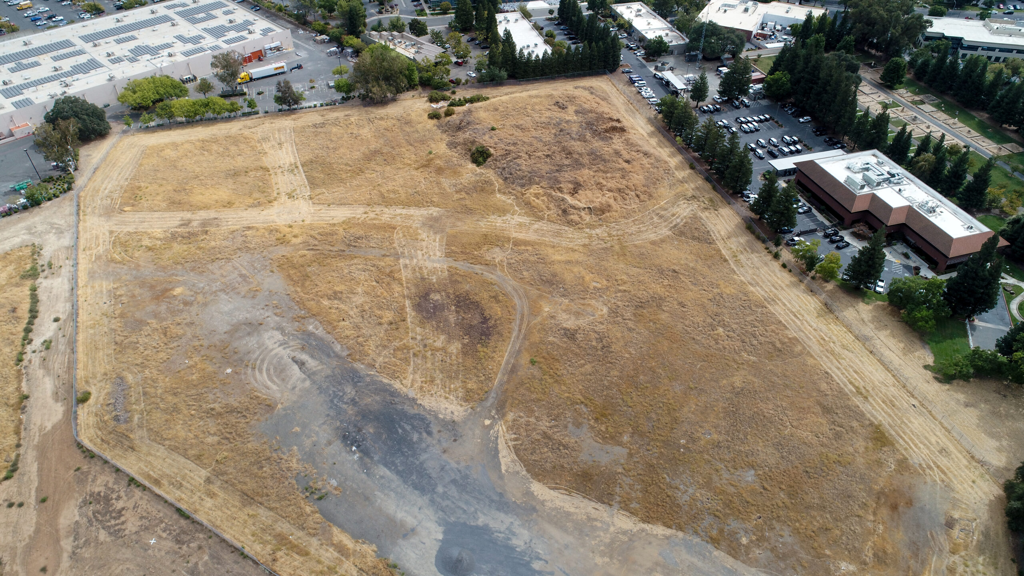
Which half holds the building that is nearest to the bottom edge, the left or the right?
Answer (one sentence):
The building that is nearest to the bottom edge appears in the right half of the scene.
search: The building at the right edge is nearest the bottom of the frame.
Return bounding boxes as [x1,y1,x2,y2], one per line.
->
[794,149,1006,268]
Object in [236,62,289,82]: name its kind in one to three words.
vehicle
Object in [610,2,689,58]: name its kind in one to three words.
building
